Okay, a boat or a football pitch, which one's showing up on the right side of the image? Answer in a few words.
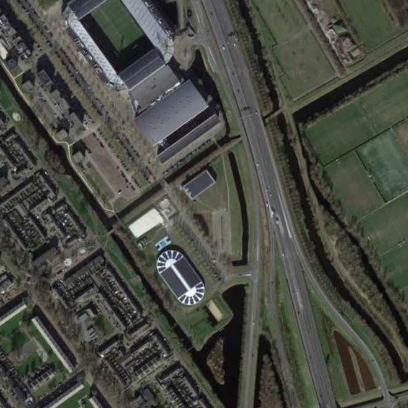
football pitch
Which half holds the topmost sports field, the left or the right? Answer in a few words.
left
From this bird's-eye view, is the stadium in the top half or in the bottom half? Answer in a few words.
top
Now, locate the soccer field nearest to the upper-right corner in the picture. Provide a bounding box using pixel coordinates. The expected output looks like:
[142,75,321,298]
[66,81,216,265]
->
[358,71,408,131]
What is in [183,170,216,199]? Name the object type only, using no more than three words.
building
